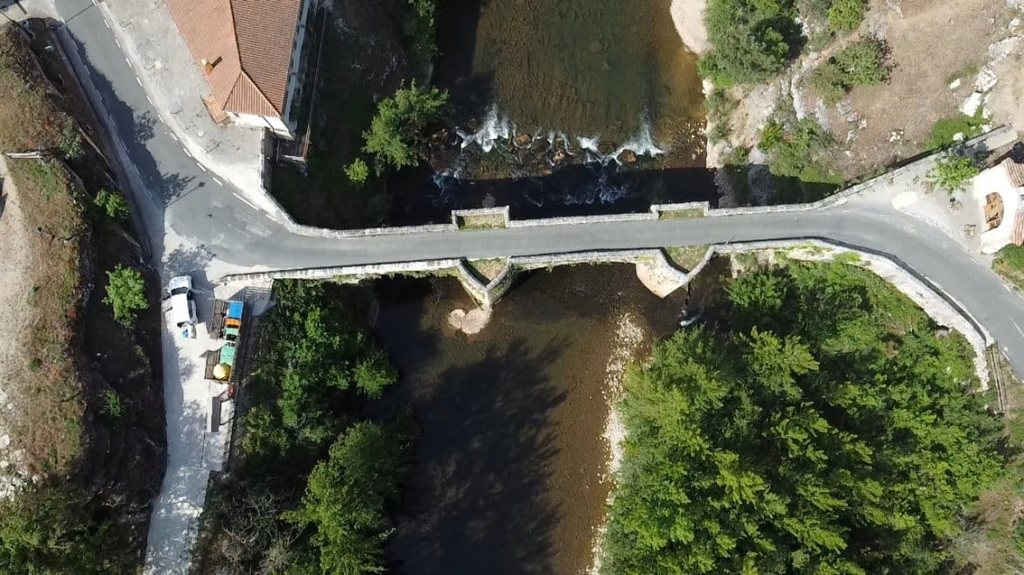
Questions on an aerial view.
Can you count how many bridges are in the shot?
1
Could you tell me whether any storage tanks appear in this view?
No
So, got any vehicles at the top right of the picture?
No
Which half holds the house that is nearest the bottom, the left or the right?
right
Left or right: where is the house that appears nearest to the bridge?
left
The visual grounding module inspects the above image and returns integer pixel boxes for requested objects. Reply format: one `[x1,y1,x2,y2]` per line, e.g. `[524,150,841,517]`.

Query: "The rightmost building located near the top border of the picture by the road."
[165,0,332,167]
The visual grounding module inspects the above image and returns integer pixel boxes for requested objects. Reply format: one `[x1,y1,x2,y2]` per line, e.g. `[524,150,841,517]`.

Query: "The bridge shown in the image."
[219,187,843,304]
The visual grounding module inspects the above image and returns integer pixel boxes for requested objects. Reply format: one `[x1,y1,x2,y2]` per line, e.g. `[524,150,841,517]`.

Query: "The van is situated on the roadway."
[166,276,200,335]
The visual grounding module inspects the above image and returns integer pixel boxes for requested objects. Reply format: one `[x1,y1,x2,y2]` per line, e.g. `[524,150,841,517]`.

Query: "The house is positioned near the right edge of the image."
[977,151,1024,253]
